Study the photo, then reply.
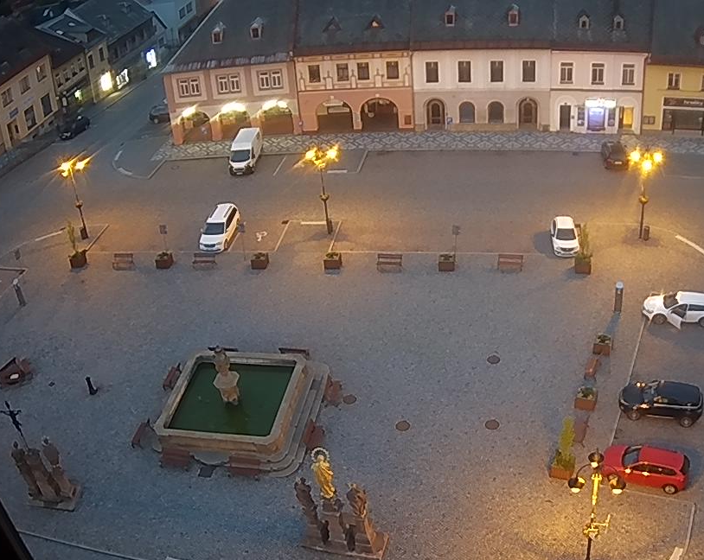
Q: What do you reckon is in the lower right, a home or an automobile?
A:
automobile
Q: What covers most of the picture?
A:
paved ground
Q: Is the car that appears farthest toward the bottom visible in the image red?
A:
Yes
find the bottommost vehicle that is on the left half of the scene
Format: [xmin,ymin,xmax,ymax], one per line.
[195,202,242,252]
